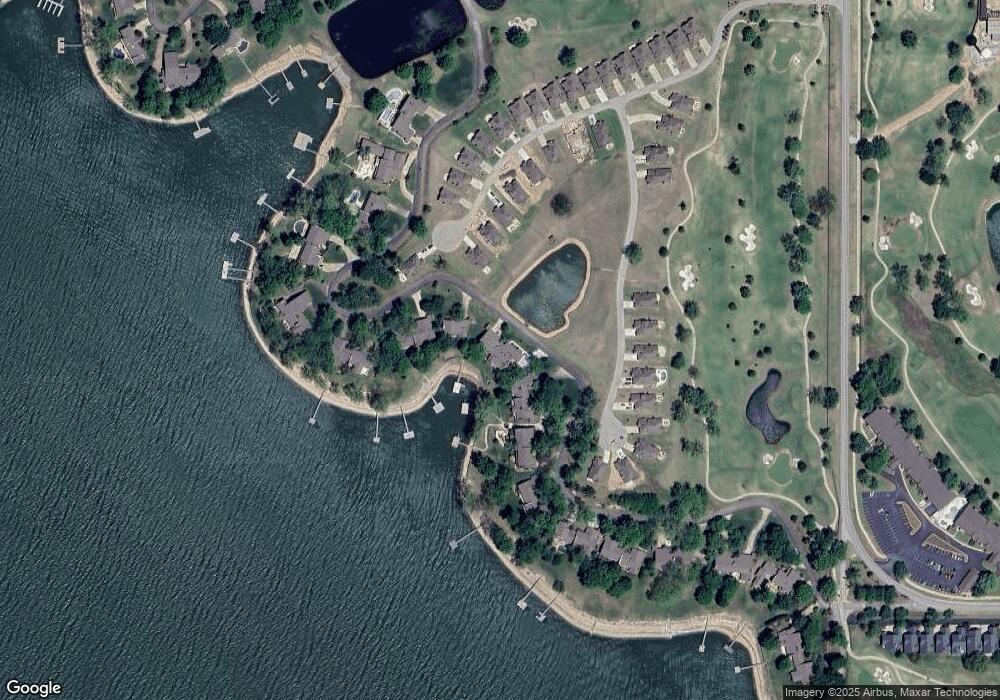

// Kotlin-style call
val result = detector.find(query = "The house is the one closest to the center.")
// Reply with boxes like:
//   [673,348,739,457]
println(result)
[475,326,521,370]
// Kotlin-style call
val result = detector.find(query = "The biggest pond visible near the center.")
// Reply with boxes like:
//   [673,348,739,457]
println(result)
[507,245,587,332]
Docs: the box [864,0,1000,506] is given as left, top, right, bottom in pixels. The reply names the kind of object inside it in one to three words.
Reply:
golf course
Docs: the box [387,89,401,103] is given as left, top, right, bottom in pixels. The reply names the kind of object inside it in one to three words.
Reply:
swimming pool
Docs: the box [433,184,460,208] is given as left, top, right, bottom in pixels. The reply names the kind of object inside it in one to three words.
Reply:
house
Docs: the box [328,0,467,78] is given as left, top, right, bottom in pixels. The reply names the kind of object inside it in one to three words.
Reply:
pond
